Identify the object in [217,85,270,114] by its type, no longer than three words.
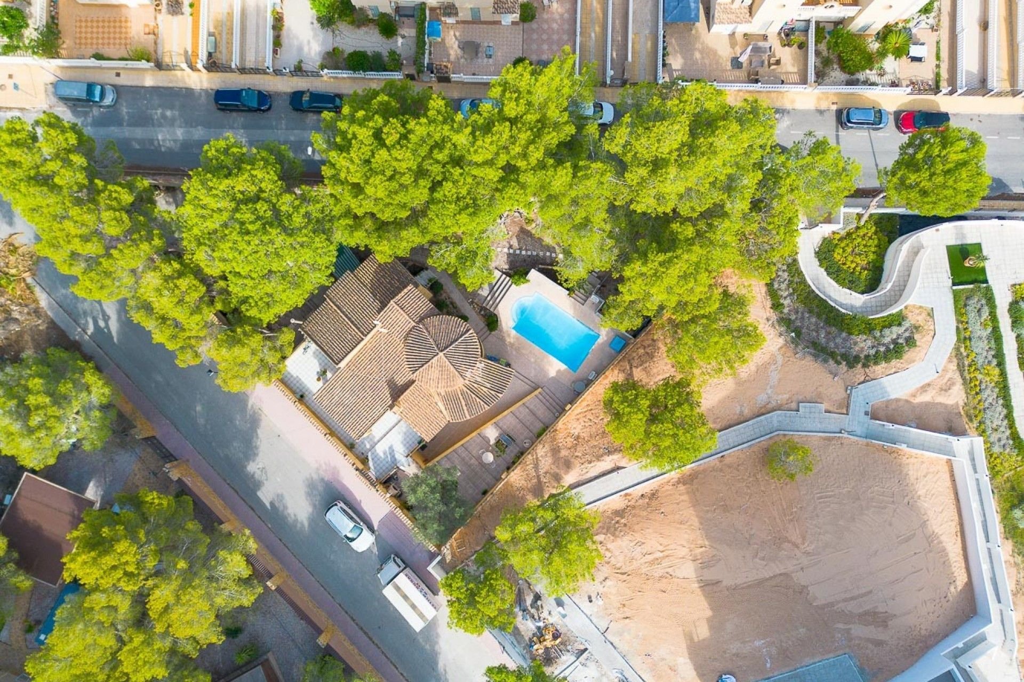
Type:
car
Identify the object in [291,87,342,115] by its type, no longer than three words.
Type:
car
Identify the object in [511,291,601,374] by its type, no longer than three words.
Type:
swimming pool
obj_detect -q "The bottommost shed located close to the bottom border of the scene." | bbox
[220,641,294,682]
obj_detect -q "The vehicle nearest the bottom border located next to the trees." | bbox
[369,546,443,631]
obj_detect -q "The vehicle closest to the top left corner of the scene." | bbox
[51,77,115,108]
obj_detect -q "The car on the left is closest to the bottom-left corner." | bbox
[323,498,374,551]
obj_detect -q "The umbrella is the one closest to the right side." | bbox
[732,49,749,68]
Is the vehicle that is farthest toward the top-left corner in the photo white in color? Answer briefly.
No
